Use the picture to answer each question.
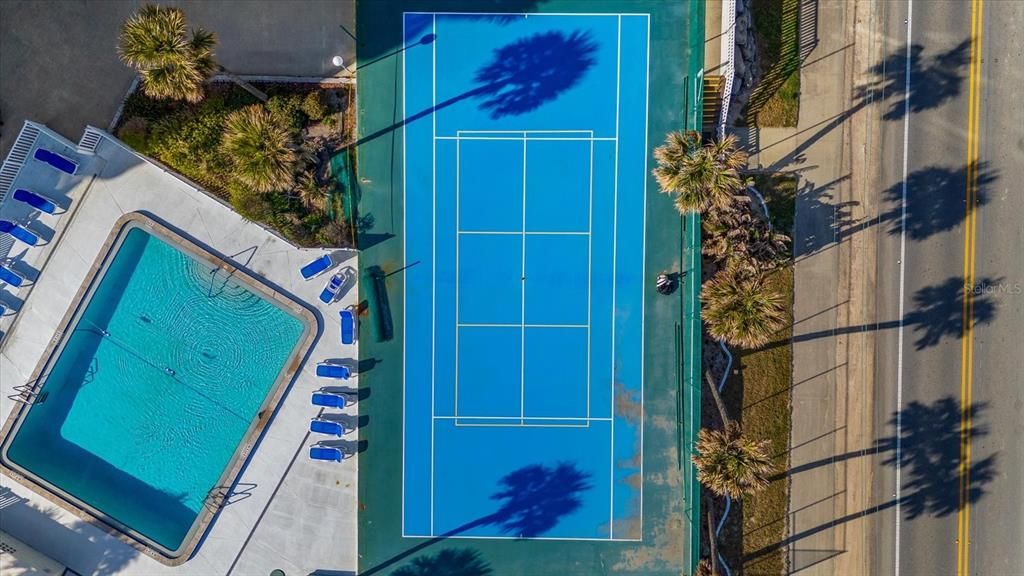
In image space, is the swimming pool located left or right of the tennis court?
to its left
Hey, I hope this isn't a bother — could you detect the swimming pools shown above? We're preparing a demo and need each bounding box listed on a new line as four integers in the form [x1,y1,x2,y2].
[0,213,318,566]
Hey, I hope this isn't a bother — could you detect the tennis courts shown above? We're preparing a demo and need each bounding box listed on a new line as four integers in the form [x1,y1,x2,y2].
[357,0,704,576]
